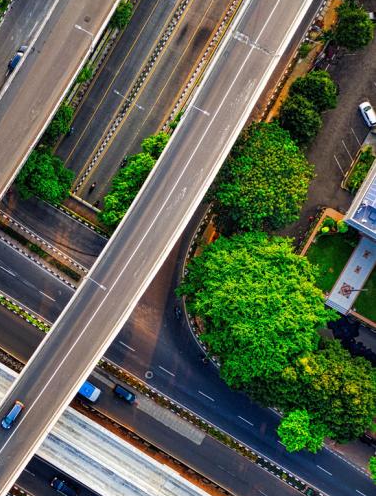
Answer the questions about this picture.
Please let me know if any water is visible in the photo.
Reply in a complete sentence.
No, no water is visible.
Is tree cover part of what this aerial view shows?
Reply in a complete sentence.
Yes, there's tree cover in this view.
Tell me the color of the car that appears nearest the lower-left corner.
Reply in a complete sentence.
In this view, the car that appears nearest the lower-left corner is black.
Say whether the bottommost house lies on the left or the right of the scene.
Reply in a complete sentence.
It is on the right.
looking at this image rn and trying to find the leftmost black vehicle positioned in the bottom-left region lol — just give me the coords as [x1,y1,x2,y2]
[49,475,79,496]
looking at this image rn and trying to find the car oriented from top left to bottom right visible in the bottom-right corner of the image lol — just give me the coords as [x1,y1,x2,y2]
[355,430,376,451]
